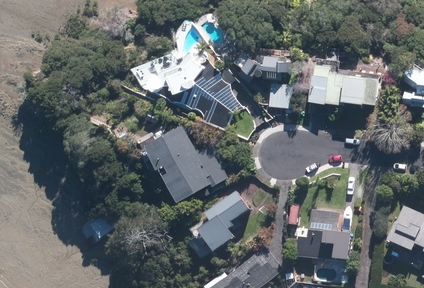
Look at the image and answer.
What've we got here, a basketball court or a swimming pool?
swimming pool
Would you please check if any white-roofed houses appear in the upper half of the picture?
Yes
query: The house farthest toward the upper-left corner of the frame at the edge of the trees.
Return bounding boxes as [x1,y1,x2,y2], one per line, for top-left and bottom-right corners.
[131,51,206,94]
